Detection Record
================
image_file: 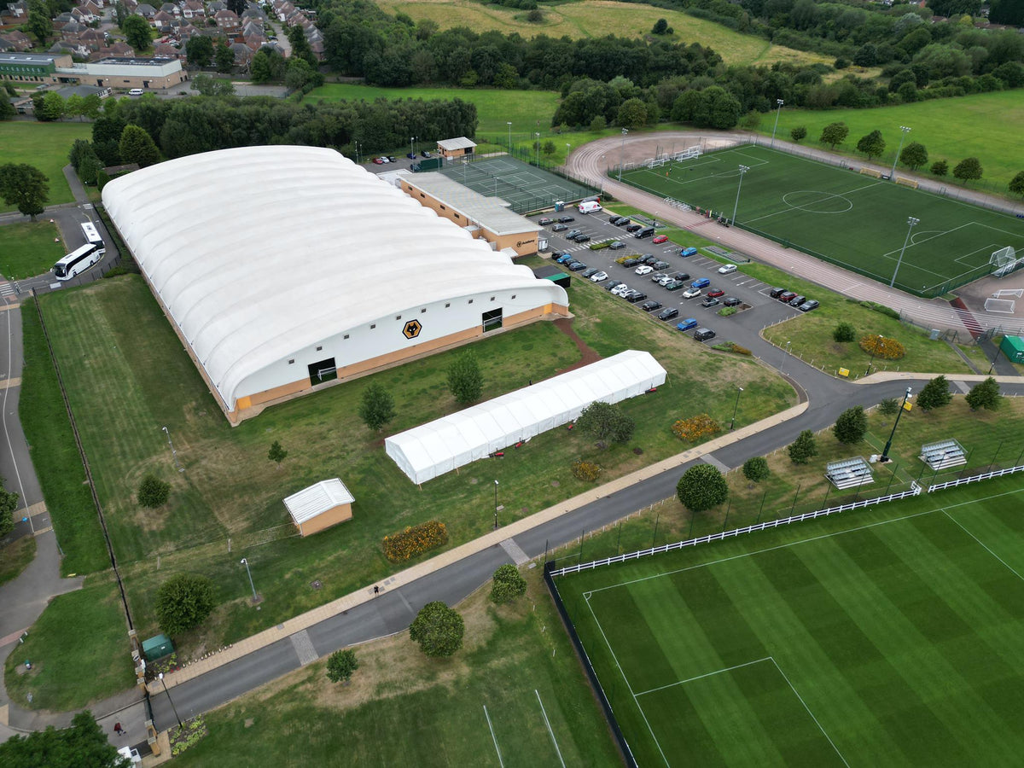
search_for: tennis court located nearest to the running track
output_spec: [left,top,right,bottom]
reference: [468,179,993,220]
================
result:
[410,154,596,214]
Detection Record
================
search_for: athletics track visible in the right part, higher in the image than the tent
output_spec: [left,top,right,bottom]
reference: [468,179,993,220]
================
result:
[566,131,1024,337]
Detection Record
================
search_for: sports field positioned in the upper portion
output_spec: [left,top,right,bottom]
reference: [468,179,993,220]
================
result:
[606,141,1024,297]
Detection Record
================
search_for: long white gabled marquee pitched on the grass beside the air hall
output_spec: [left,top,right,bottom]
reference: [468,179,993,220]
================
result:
[388,350,676,489]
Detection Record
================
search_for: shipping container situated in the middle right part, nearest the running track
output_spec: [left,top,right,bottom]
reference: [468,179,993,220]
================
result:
[980,332,1024,362]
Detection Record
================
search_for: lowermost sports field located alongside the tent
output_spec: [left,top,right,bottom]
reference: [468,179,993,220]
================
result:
[549,467,1024,768]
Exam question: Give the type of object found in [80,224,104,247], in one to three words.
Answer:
bus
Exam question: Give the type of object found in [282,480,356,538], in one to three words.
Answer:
shed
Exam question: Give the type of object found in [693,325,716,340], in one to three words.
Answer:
car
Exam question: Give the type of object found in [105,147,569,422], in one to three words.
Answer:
building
